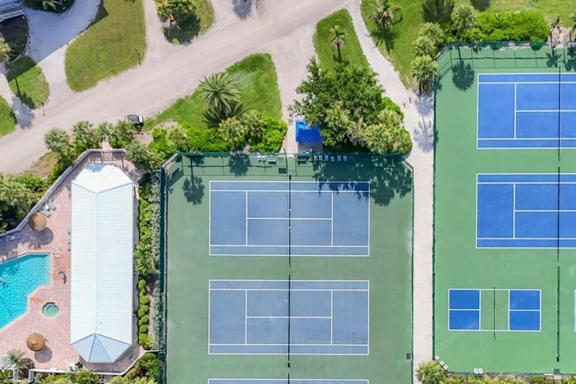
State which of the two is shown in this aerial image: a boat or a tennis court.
tennis court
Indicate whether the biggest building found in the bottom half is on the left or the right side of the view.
left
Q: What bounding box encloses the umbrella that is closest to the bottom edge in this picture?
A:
[27,333,46,352]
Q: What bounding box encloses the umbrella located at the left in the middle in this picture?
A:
[29,212,47,231]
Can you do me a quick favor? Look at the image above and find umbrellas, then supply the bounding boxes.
[27,333,46,352]
[29,212,47,231]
